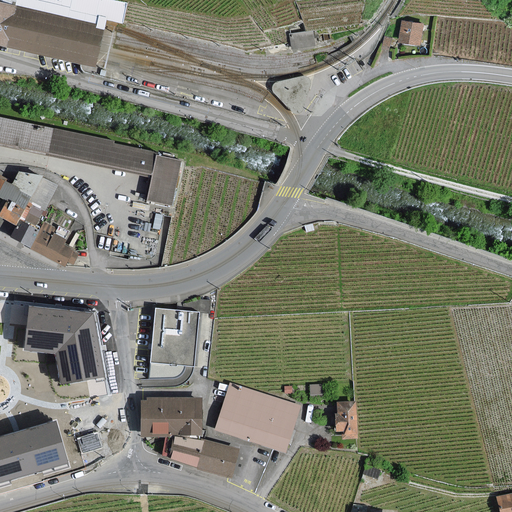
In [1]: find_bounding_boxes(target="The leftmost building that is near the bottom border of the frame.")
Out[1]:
[0,420,68,490]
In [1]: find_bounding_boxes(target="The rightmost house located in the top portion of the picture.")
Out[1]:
[399,20,425,45]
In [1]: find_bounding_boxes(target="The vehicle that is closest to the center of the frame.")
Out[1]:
[255,220,276,242]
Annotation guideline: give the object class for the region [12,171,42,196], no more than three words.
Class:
house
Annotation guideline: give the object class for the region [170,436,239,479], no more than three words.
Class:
building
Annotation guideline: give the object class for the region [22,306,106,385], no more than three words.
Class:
building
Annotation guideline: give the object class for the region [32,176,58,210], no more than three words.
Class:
shed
